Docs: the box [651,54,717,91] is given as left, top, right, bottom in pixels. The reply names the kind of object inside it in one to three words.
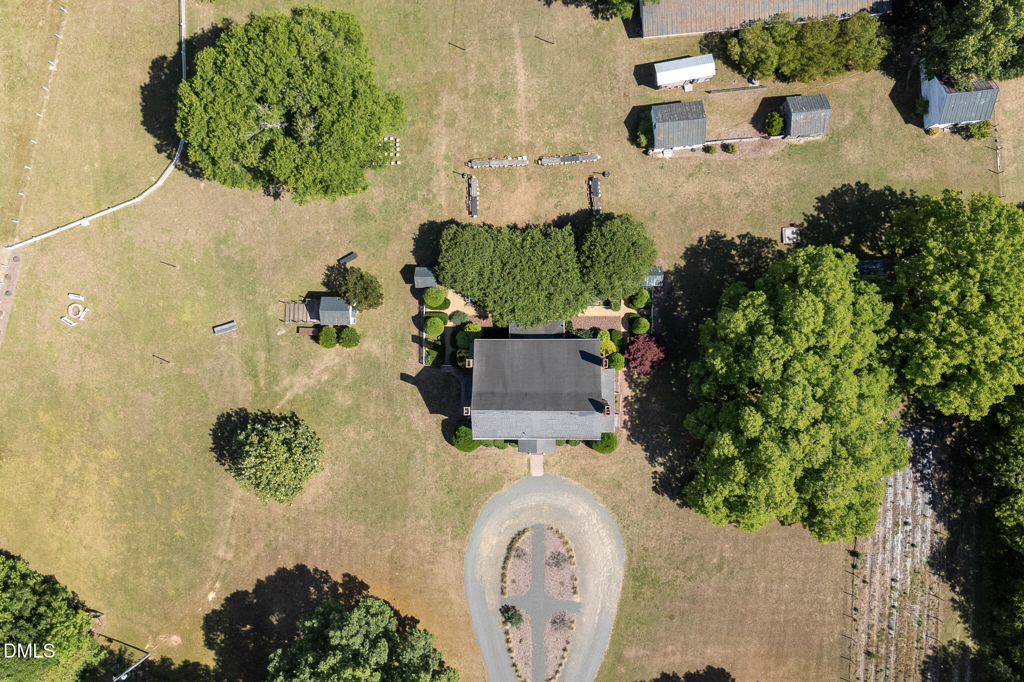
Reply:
shed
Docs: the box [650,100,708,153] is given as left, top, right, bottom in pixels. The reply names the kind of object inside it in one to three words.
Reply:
shed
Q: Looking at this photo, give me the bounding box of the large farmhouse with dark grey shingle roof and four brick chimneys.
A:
[464,321,616,458]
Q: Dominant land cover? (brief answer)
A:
grass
